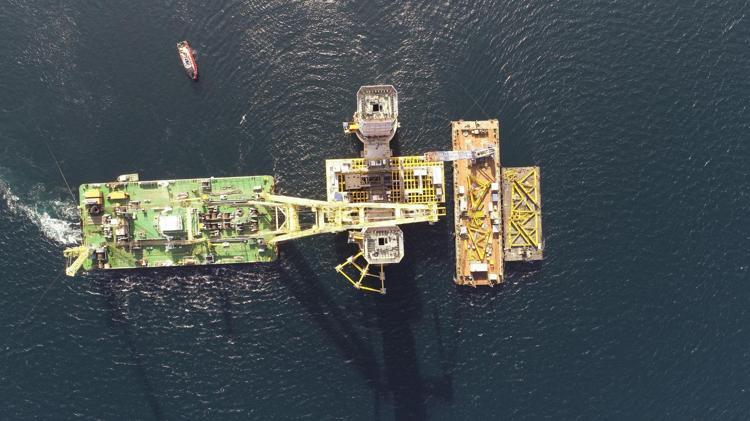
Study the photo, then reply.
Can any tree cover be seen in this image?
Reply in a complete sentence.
No, the scene doesn't show any tree cover.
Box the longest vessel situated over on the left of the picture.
[64,174,447,275]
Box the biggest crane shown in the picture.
[423,146,500,165]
